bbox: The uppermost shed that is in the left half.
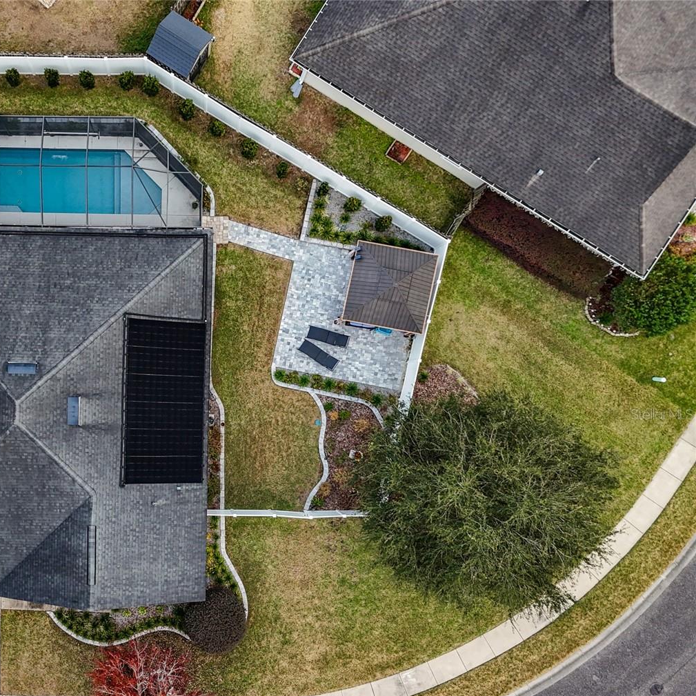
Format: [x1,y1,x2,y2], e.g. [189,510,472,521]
[147,6,215,78]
